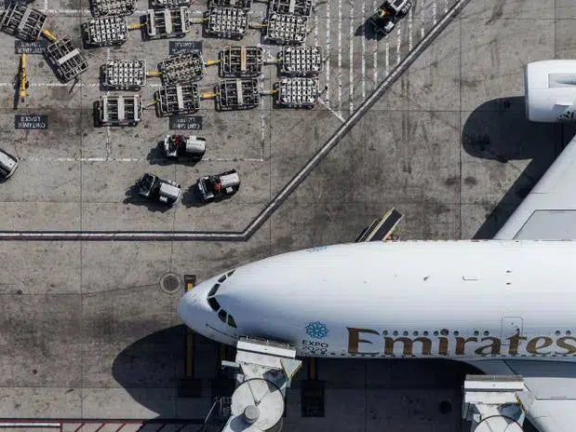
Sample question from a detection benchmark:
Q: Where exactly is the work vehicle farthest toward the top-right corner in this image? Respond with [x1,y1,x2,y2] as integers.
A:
[371,0,412,35]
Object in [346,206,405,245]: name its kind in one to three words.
work vehicle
